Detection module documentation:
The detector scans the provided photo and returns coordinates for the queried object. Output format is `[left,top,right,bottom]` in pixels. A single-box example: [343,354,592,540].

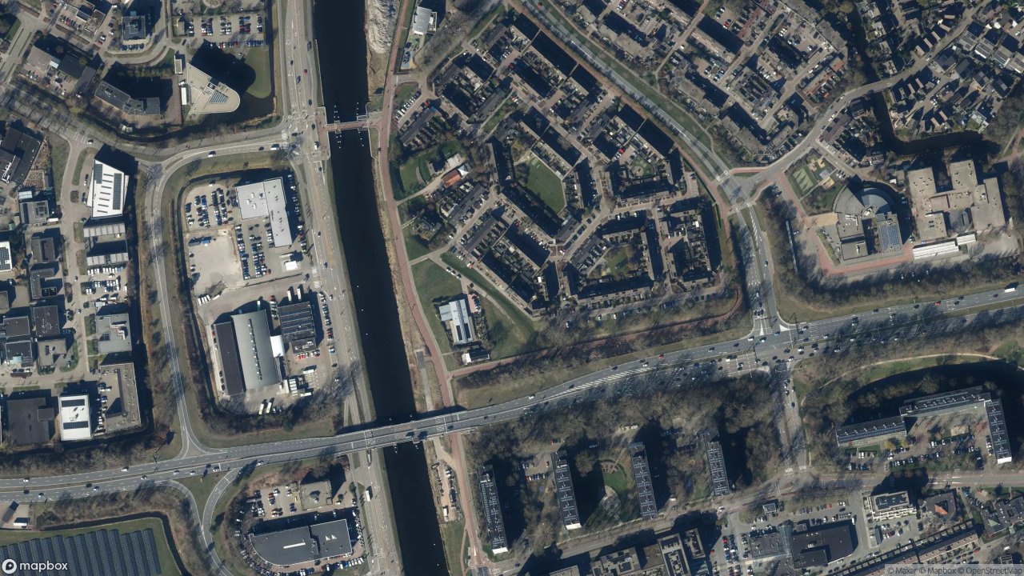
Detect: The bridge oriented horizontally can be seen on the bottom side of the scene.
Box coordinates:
[344,410,464,451]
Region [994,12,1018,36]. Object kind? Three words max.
house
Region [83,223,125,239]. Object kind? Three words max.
shed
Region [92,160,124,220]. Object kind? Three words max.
building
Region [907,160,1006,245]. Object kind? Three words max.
building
